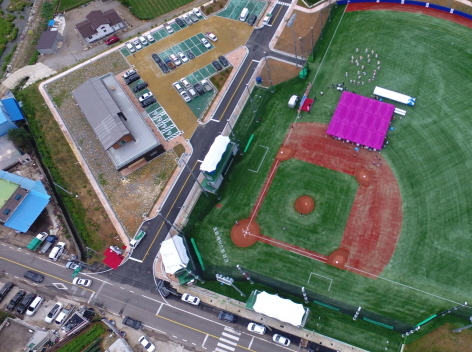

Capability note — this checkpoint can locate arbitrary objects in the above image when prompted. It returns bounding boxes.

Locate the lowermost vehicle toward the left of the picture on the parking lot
[138,336,156,352]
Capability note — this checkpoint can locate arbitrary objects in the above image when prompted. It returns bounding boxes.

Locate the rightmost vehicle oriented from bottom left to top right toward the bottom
[129,230,147,248]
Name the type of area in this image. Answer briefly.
sports ground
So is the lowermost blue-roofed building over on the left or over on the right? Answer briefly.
left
